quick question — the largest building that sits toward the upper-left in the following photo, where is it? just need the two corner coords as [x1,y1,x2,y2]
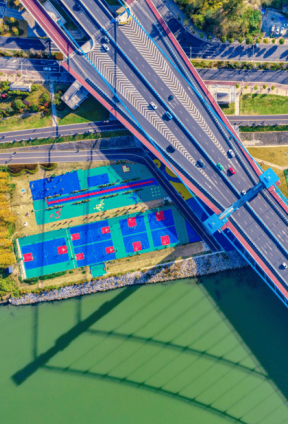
[61,79,91,110]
